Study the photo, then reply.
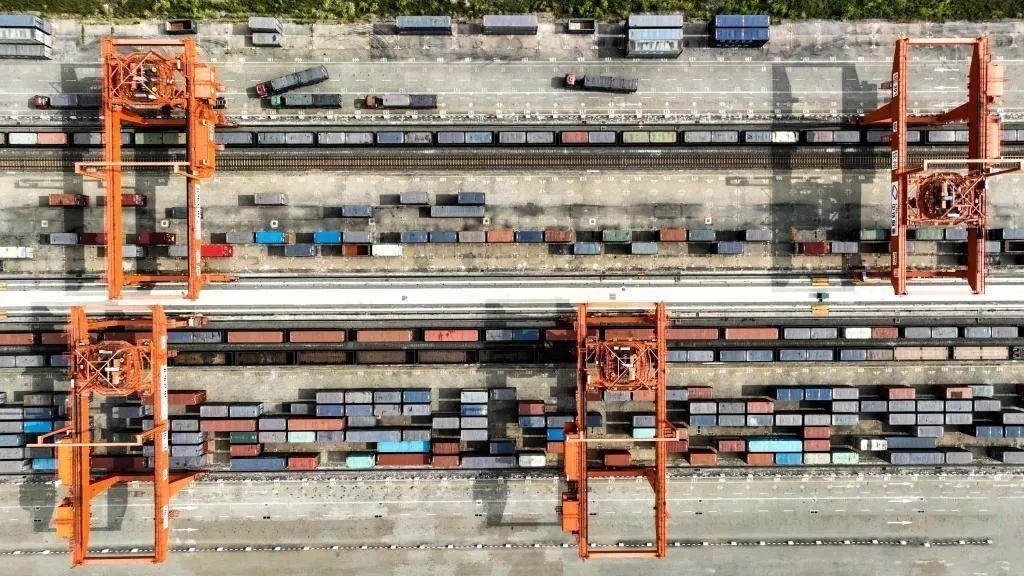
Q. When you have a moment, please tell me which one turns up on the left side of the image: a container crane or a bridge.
container crane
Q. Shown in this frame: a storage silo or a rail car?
rail car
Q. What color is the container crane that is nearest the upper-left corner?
orange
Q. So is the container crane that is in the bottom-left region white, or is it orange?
orange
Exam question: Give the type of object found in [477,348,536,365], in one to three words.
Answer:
rail car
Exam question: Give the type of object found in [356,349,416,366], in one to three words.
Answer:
rail car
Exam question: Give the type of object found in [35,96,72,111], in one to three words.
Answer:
vehicle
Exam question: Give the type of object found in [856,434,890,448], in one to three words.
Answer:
vehicle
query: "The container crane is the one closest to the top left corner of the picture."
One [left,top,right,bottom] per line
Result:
[72,38,240,299]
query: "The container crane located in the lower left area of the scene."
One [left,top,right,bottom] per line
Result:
[26,303,210,564]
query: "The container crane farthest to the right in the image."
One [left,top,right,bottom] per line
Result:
[845,38,1024,294]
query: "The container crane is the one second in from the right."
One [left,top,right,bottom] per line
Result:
[550,300,682,558]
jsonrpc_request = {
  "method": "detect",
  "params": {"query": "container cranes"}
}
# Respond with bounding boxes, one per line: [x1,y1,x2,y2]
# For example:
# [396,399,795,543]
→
[845,38,1024,294]
[72,38,240,299]
[26,303,210,564]
[550,300,682,558]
